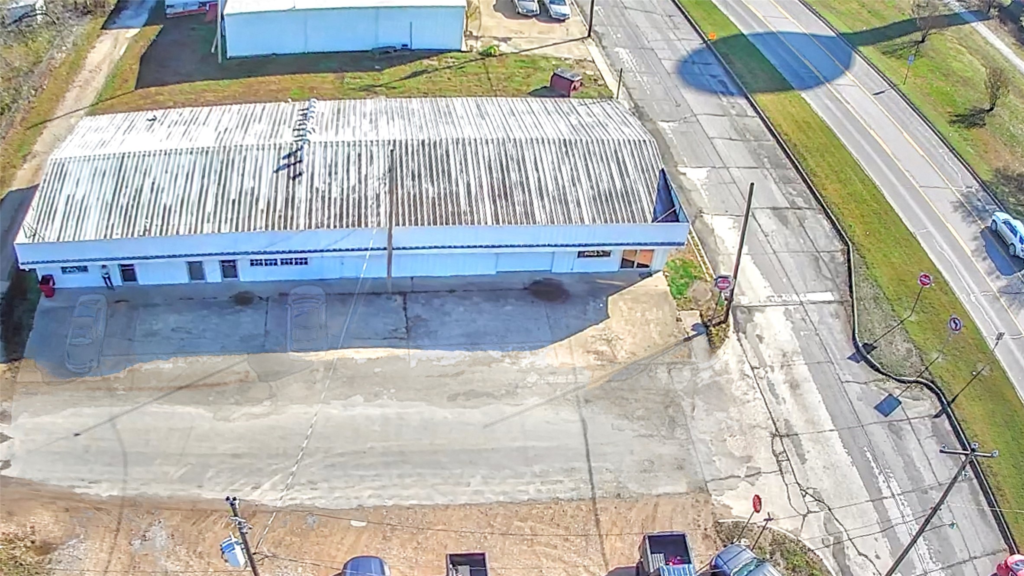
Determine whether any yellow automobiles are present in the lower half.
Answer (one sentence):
No, the scene shows no yellow automobile in the lower half.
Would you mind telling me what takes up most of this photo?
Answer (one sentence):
What you mostly see from above here is paved ground.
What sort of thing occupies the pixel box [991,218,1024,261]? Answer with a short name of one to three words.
car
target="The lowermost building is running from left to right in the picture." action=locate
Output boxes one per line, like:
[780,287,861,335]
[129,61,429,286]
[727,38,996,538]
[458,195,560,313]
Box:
[13,96,691,288]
